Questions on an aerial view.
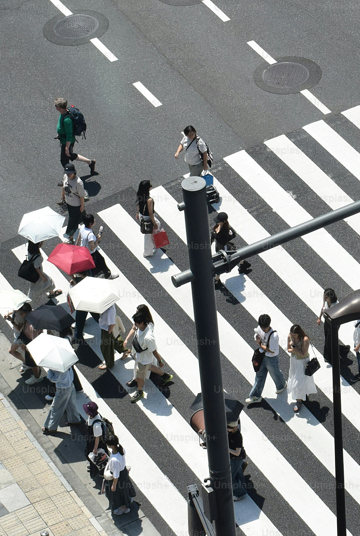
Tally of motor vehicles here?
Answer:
0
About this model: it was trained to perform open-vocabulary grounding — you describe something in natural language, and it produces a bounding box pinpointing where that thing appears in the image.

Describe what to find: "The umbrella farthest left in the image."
[0,284,34,326]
